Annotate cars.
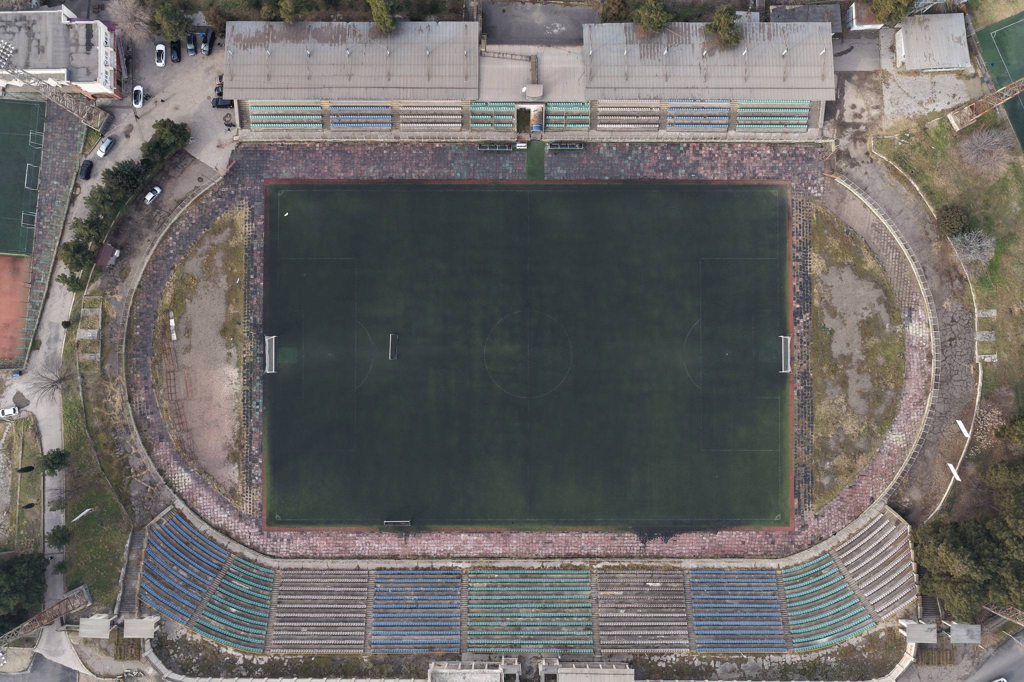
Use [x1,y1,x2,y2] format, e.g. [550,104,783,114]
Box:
[184,32,196,55]
[141,184,160,205]
[130,84,142,106]
[0,407,17,418]
[152,43,164,65]
[212,71,224,83]
[77,157,92,180]
[95,134,114,157]
[209,96,231,108]
[198,28,213,54]
[167,37,180,61]
[211,84,224,95]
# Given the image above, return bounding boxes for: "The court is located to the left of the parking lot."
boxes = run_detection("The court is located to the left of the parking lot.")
[0,254,31,368]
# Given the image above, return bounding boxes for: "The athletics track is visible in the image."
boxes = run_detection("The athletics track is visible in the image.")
[127,141,936,559]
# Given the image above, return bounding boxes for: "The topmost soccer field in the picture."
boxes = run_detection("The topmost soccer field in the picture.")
[974,8,1024,150]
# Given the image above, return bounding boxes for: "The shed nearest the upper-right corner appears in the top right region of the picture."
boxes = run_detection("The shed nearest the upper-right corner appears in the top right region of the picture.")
[890,13,971,75]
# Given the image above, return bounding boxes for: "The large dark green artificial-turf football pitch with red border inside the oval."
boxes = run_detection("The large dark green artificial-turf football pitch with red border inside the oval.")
[260,180,795,544]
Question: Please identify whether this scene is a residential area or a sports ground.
sports ground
